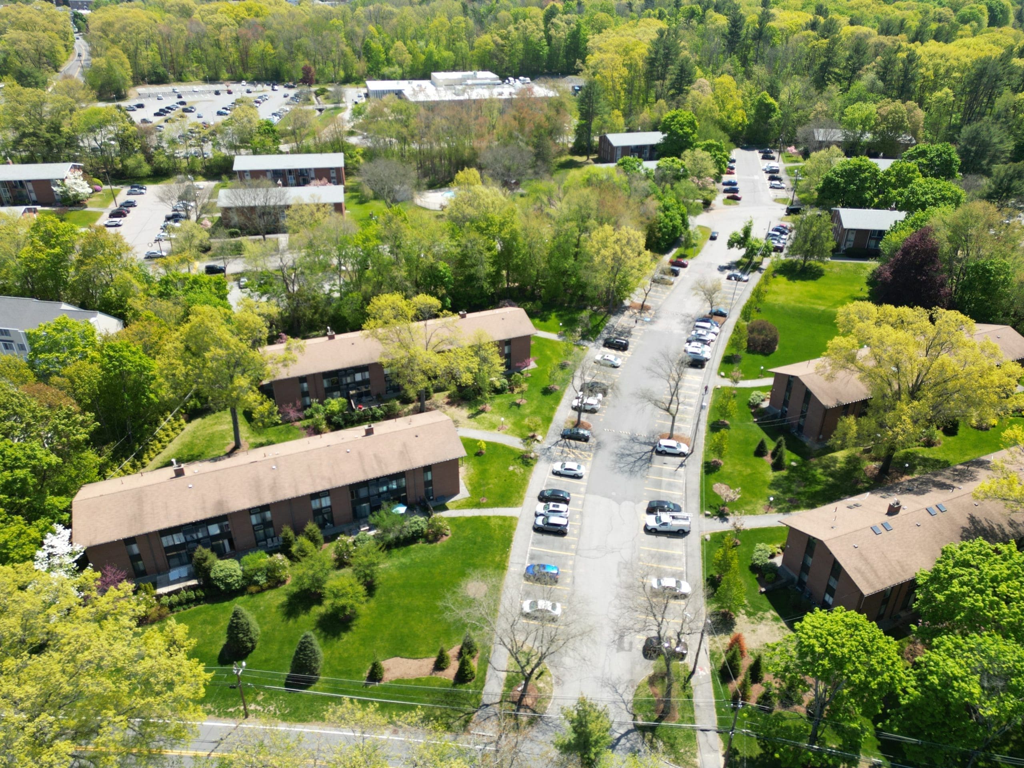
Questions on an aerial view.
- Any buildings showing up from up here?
Yes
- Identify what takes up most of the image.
trees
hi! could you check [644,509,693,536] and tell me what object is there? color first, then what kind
white truck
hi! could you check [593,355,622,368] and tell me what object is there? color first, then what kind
white vehicle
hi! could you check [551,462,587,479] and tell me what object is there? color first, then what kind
white car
